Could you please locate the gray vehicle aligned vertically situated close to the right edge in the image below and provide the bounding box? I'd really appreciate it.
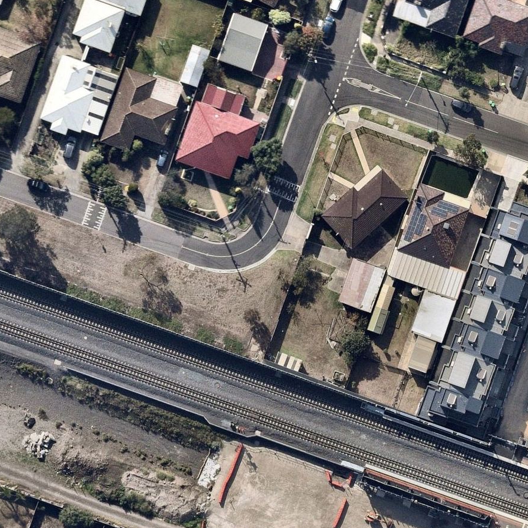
[509,65,524,90]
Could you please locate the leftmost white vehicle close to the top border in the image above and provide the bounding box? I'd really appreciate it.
[328,0,342,15]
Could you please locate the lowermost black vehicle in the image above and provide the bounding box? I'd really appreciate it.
[26,177,52,193]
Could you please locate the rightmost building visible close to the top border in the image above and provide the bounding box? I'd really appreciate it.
[463,0,528,58]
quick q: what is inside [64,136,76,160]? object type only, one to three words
vehicle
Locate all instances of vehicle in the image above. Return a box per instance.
[509,65,524,90]
[450,98,475,113]
[328,0,342,15]
[156,147,167,169]
[64,136,76,160]
[323,13,336,39]
[26,177,52,193]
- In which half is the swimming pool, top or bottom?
top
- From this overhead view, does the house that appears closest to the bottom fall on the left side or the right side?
right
